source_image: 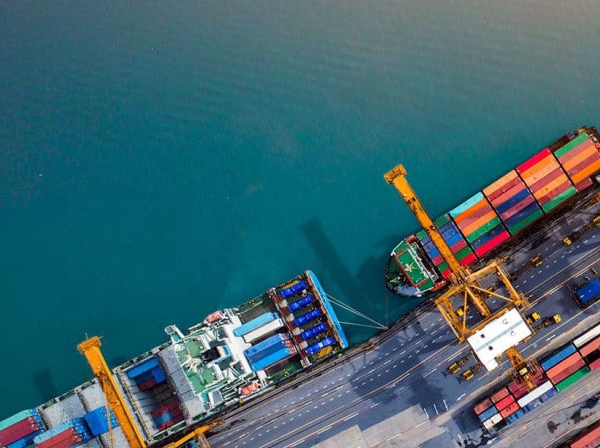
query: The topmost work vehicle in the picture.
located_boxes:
[559,213,600,246]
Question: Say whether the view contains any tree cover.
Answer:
No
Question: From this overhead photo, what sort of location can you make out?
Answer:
port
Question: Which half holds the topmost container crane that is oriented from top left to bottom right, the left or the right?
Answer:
right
